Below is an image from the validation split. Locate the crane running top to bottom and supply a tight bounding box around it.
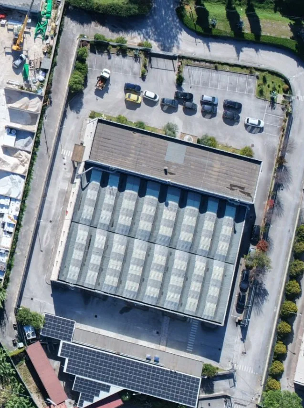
[6,0,32,56]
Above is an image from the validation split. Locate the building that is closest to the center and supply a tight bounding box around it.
[51,118,263,327]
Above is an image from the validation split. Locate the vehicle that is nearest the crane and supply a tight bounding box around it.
[11,55,25,69]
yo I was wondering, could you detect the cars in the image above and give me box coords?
[124,93,142,104]
[199,104,218,114]
[249,223,262,244]
[11,55,25,69]
[198,94,219,105]
[122,82,143,94]
[244,118,264,128]
[221,110,239,122]
[239,268,249,290]
[181,100,198,110]
[235,291,246,311]
[158,97,178,109]
[141,90,160,103]
[221,99,243,111]
[173,90,193,101]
